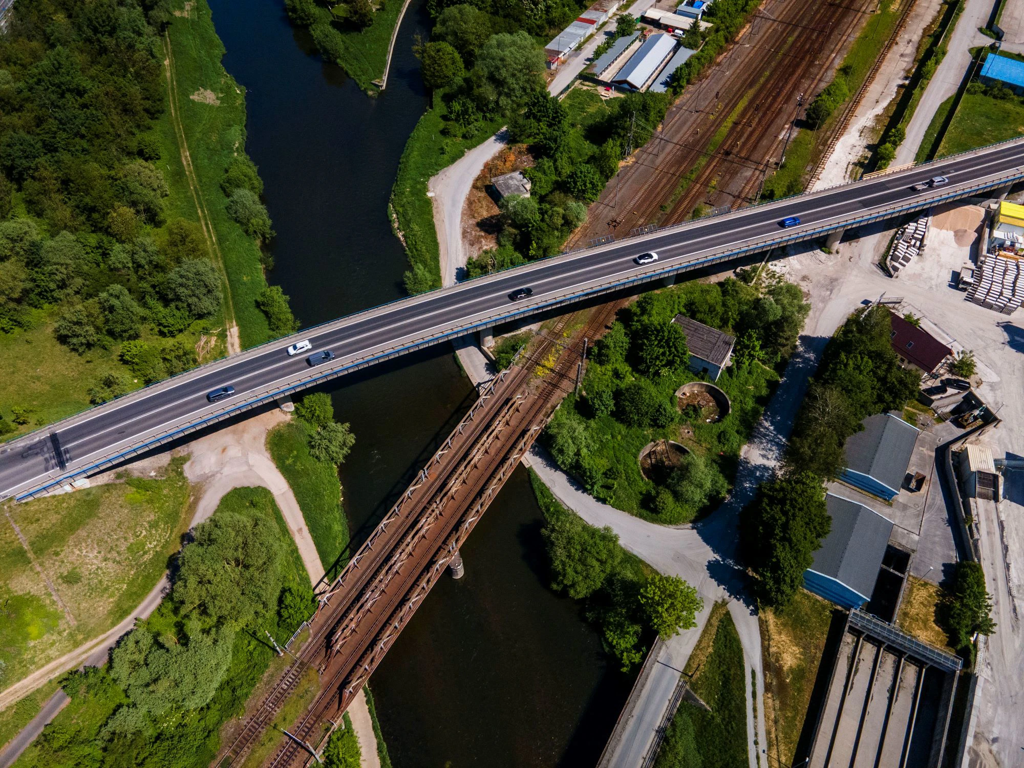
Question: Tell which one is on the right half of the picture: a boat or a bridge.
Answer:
bridge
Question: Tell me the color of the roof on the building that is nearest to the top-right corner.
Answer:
blue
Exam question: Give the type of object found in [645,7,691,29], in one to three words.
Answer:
building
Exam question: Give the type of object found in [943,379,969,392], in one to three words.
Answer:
vehicle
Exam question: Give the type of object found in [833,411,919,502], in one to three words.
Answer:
shed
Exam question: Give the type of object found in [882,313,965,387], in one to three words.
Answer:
house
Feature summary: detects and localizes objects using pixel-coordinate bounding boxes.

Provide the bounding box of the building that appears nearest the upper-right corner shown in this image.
[979,53,1024,98]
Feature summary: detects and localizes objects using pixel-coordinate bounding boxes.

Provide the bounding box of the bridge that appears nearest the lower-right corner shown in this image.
[849,599,967,664]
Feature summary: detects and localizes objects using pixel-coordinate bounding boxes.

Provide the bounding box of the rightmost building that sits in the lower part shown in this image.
[956,444,998,519]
